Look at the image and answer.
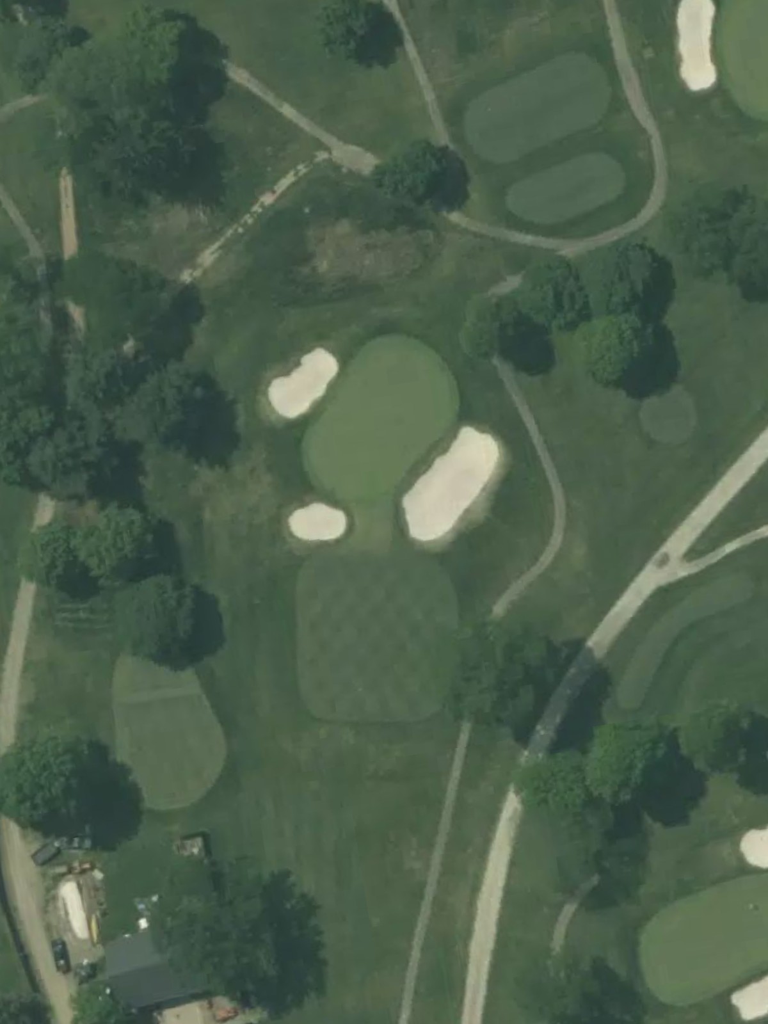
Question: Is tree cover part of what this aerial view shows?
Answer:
Yes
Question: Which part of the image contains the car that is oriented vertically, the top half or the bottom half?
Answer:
bottom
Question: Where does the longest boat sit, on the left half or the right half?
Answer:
left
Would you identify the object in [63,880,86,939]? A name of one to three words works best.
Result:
boat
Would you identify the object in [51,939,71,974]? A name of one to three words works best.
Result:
car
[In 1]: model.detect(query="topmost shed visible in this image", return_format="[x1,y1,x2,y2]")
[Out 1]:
[176,835,203,859]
